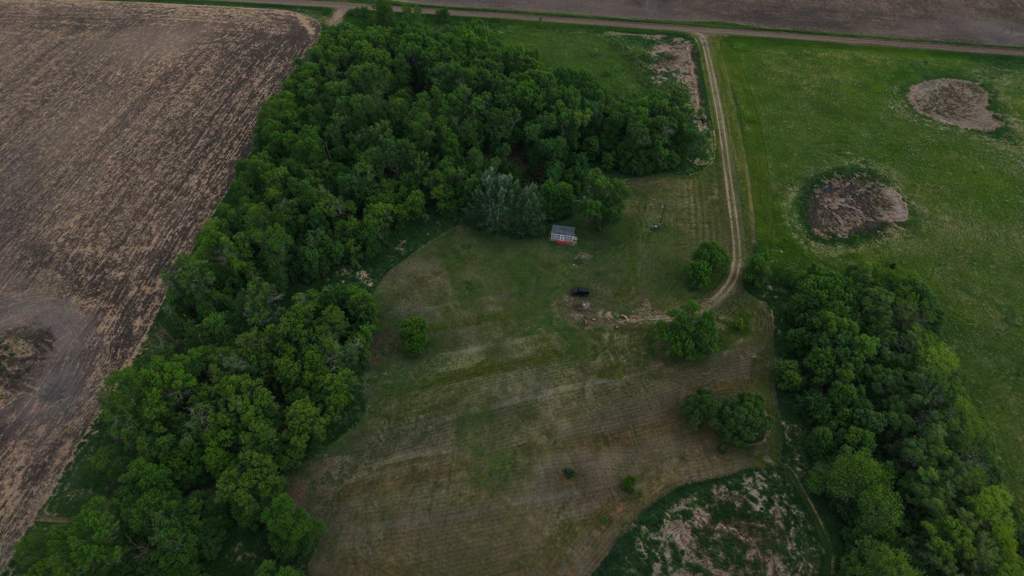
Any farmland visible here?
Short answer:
Yes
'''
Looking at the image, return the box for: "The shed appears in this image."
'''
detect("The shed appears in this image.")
[551,225,575,242]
